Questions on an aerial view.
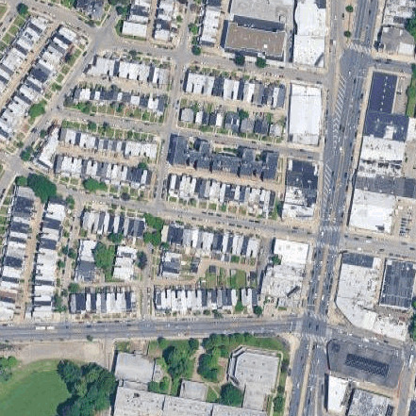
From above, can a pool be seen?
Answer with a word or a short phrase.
No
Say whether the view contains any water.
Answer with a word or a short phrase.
No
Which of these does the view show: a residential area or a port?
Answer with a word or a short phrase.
residential area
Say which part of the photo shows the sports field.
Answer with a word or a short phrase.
bottom left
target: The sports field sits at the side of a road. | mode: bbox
[0,353,75,416]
